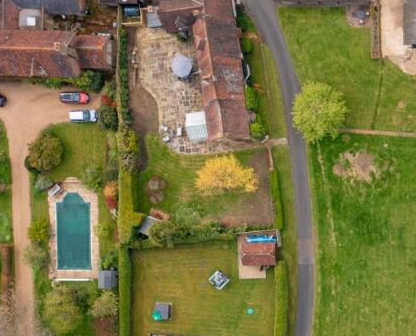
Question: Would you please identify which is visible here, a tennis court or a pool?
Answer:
pool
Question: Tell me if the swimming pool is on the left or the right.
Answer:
left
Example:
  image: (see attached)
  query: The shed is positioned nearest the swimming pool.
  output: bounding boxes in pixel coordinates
[96,272,120,288]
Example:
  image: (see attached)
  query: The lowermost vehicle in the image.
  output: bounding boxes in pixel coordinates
[69,109,100,124]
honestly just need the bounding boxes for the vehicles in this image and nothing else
[69,109,100,124]
[60,91,91,105]
[0,94,10,110]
